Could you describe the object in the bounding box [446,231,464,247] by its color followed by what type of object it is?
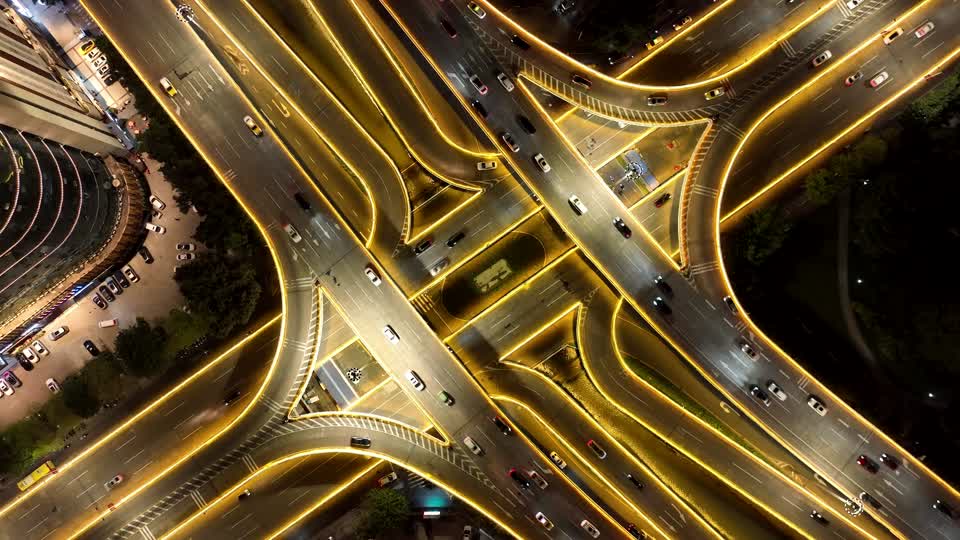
black car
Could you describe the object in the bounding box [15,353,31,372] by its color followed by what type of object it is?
black car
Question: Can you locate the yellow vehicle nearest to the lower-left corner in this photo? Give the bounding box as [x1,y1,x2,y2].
[7,458,54,495]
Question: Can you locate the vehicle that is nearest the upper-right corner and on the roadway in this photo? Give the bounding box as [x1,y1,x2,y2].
[918,21,938,36]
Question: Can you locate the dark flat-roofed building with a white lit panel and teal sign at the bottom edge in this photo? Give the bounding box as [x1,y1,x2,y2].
[396,506,477,540]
